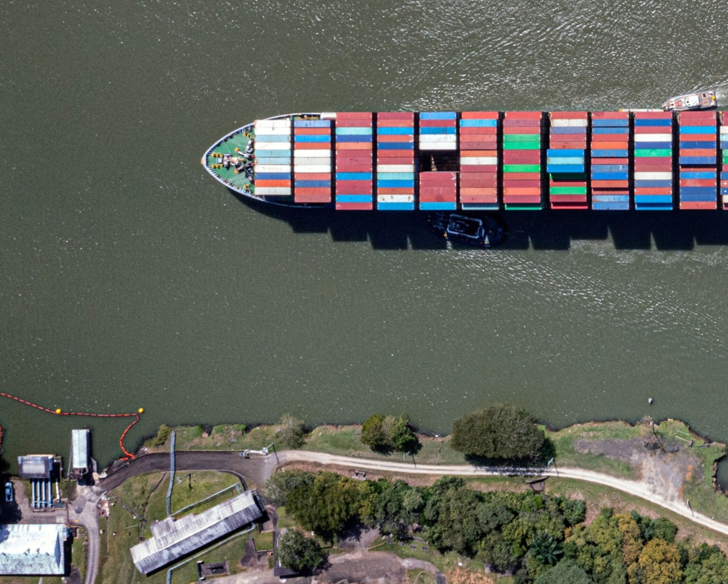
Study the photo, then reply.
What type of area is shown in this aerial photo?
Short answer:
port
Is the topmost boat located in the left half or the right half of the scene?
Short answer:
right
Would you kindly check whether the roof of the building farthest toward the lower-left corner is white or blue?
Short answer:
white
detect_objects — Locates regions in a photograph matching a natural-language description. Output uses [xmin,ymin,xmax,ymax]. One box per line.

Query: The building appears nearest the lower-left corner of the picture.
[0,522,69,575]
